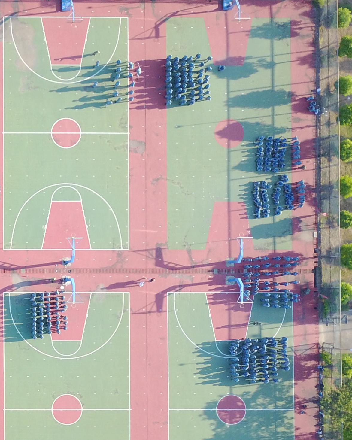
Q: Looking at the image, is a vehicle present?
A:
No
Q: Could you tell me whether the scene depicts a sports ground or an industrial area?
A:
sports ground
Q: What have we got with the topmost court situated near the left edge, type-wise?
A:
basketball court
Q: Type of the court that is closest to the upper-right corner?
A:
basketball court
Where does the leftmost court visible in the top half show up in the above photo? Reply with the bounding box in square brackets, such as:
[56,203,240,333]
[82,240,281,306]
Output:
[2,16,130,250]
